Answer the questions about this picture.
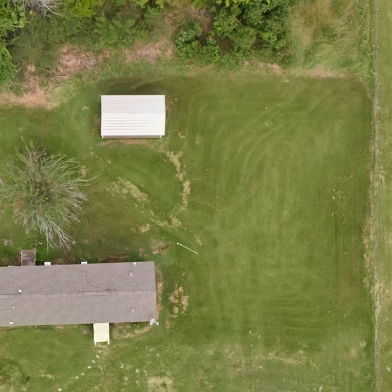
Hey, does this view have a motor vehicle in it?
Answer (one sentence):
No, no motor vehicle is visible in the scene.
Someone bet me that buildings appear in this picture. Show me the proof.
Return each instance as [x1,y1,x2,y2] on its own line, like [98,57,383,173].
[97,95,166,141]
[0,261,157,326]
